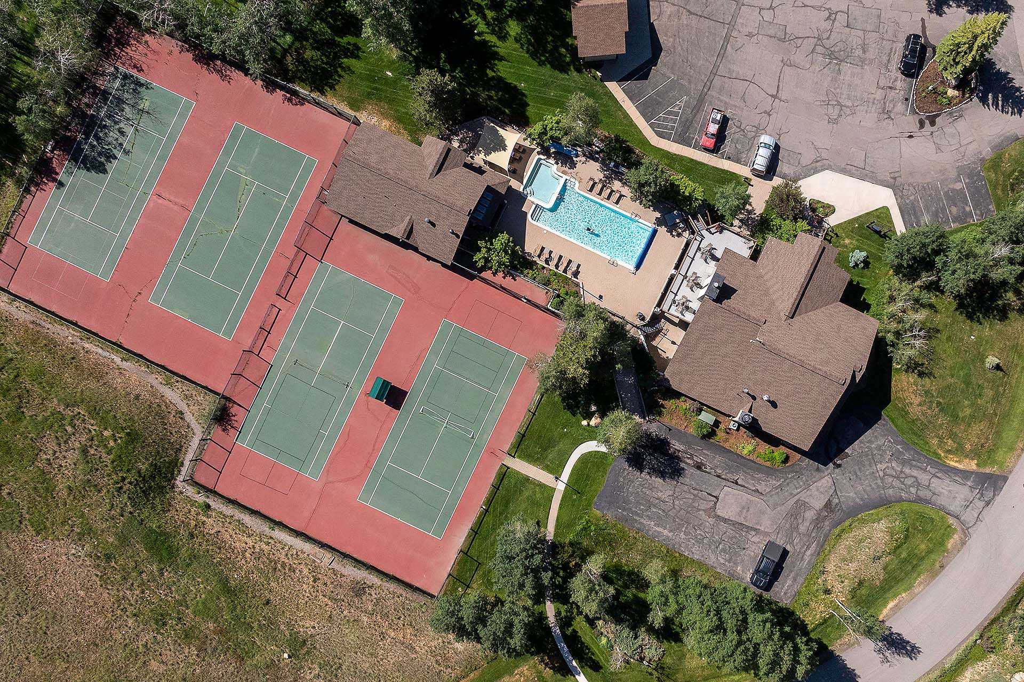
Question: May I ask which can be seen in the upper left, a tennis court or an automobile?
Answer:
tennis court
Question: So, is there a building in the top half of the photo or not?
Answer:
Yes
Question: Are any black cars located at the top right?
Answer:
Yes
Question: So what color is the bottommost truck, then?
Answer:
black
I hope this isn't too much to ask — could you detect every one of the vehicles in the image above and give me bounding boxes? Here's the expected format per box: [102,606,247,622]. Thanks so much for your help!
[754,540,787,594]
[900,29,927,76]
[753,132,778,176]
[701,103,729,150]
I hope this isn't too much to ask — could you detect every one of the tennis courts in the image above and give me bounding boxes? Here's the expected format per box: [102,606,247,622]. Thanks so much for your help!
[148,122,318,341]
[357,300,528,541]
[27,64,196,300]
[234,260,405,495]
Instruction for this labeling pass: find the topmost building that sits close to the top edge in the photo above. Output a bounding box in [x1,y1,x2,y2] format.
[572,0,628,63]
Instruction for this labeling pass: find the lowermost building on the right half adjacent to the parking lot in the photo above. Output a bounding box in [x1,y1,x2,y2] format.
[664,232,879,451]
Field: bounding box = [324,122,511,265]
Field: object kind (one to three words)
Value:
building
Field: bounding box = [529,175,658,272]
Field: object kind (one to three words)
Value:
swimming pool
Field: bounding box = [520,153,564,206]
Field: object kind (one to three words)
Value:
swimming pool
